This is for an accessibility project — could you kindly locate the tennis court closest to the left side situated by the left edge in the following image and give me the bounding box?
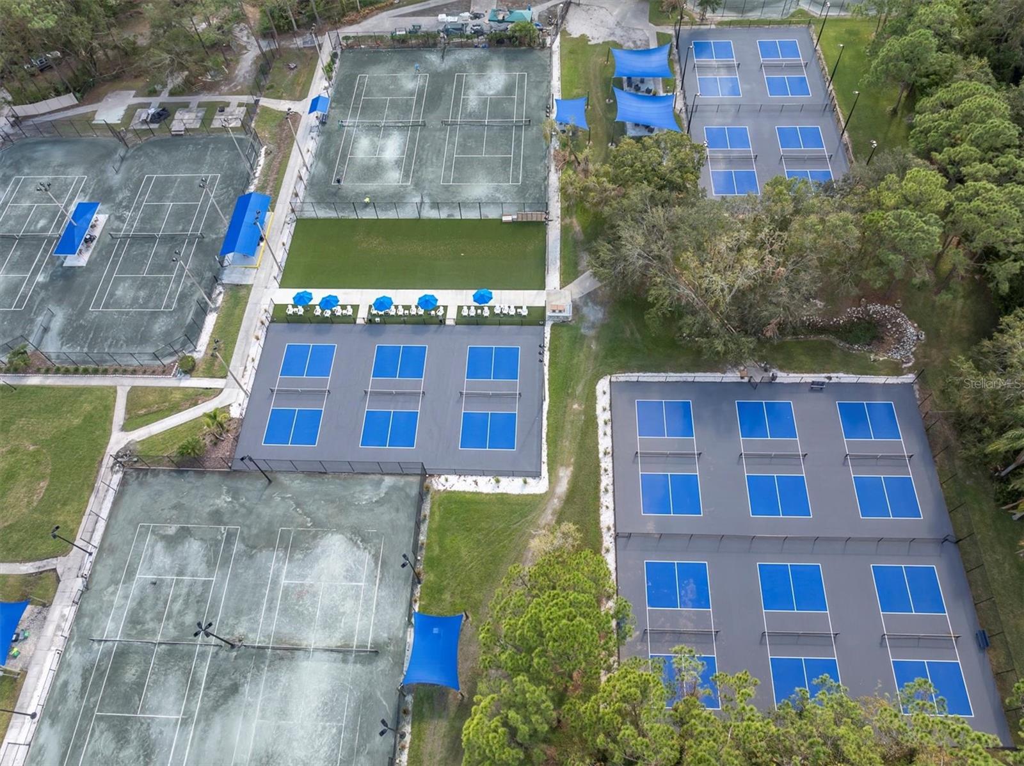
[0,136,128,366]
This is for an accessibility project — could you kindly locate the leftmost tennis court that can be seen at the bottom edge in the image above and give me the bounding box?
[24,469,273,766]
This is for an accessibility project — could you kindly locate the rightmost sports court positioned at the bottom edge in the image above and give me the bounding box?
[841,541,1014,748]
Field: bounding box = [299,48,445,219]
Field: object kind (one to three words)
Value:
tennis court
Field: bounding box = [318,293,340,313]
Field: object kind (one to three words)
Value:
umbrella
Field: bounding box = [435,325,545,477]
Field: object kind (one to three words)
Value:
sports court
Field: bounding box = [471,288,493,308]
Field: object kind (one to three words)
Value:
umbrella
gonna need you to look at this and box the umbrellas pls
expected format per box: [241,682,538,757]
[318,293,340,313]
[471,288,493,308]
[417,293,439,314]
[372,295,394,315]
[293,289,314,309]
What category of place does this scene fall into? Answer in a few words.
sports ground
